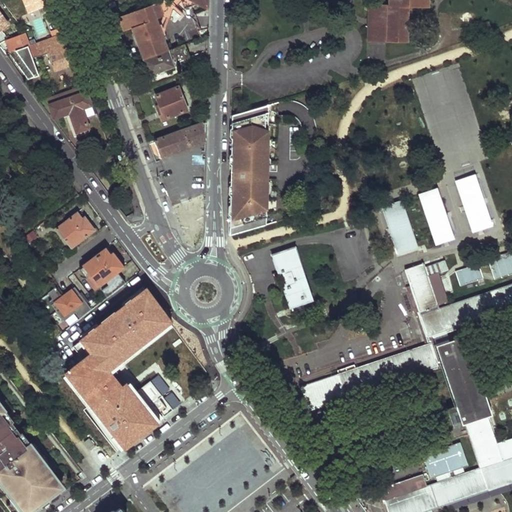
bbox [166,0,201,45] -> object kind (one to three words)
house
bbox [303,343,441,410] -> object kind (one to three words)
building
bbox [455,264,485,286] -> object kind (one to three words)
shed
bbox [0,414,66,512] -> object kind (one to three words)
building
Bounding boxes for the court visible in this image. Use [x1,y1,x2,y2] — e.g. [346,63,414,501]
[414,64,486,166]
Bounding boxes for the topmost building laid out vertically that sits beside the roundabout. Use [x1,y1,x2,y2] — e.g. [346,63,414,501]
[232,108,270,234]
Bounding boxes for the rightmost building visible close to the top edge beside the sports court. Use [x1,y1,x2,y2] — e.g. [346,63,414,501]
[367,0,430,43]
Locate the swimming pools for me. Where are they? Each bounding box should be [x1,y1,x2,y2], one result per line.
[31,16,48,38]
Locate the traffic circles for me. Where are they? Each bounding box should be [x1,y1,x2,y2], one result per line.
[170,256,242,328]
